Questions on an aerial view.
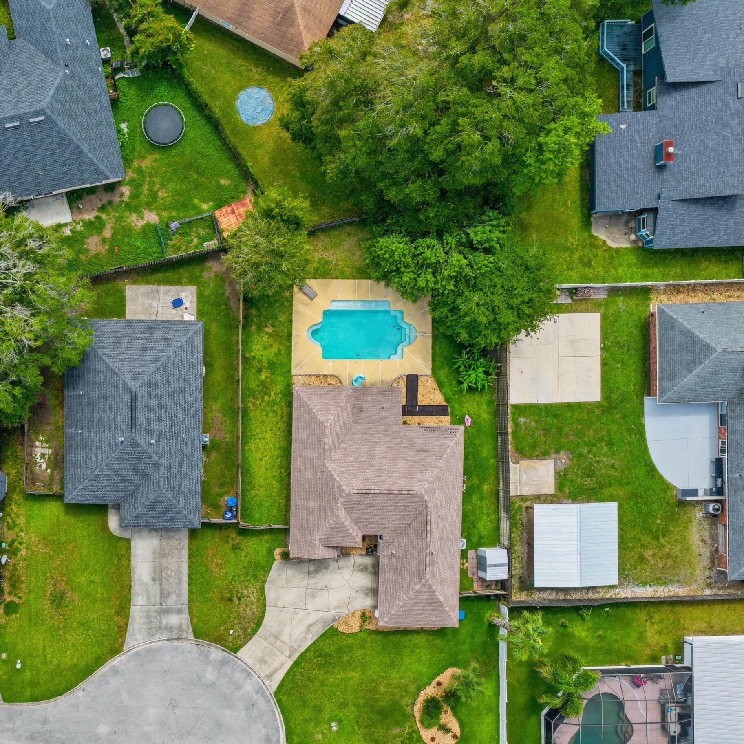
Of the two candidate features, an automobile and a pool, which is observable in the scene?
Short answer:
pool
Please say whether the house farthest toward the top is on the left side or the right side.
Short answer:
left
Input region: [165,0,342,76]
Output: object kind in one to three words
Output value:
house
